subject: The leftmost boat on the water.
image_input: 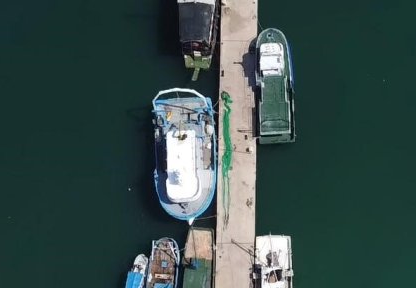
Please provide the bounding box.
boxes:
[126,254,149,288]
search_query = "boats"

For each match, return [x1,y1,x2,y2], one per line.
[176,0,223,81]
[179,227,215,288]
[251,22,296,146]
[145,237,180,288]
[231,232,295,288]
[151,88,222,225]
[126,254,149,288]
